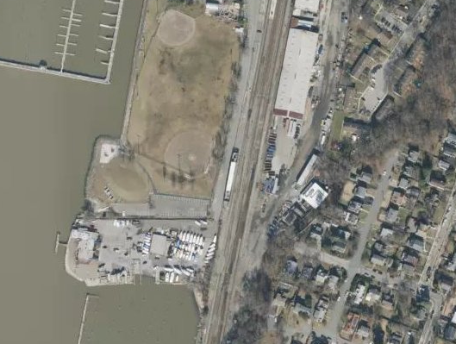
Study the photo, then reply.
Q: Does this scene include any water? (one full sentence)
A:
Yes, some water is visible.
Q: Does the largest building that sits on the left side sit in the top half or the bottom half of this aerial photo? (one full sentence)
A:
You can find the largest building that sits on the left side in the bottom half.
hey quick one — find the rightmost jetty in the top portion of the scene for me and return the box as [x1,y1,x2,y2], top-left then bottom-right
[96,0,122,80]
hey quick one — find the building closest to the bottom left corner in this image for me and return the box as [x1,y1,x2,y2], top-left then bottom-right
[71,227,101,261]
